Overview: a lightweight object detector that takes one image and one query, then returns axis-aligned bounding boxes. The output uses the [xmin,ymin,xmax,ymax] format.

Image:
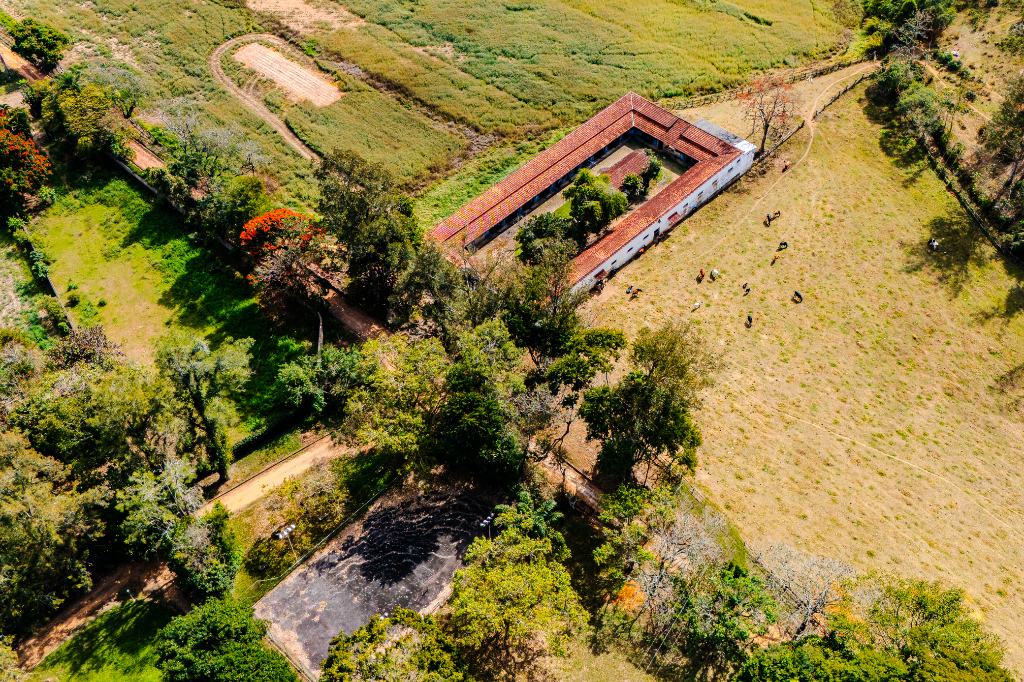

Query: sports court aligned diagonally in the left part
[251,443,526,682]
